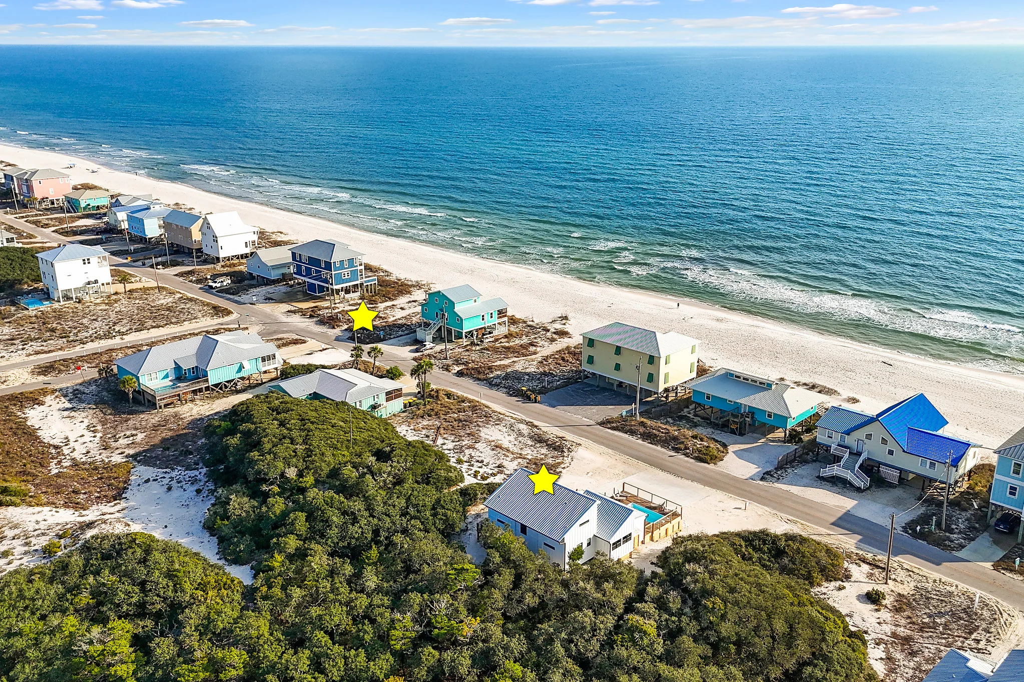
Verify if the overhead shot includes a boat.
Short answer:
No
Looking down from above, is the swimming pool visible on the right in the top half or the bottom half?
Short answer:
bottom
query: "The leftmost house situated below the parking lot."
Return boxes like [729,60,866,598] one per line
[484,462,683,568]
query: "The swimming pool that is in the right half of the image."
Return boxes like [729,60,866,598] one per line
[625,502,661,523]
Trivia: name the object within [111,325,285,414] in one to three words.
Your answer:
house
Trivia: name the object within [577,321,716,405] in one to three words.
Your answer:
house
